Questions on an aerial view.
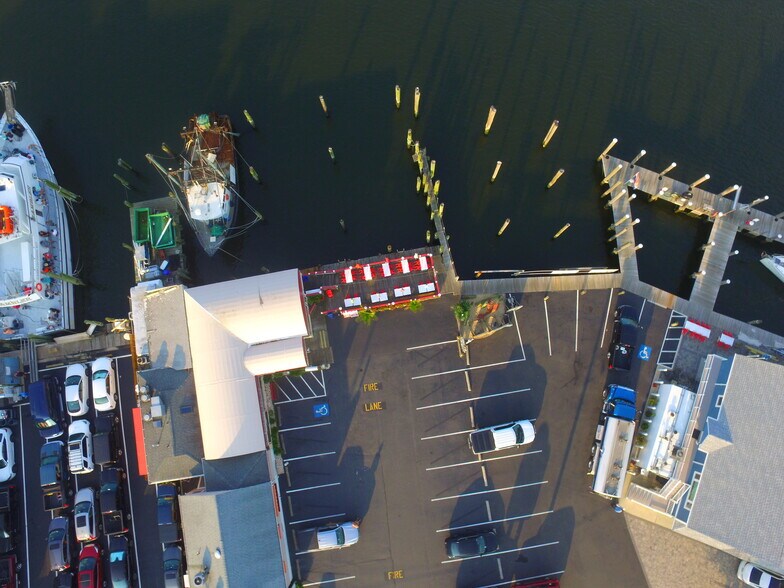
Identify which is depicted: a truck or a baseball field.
truck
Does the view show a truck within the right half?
Yes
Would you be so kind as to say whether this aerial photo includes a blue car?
Yes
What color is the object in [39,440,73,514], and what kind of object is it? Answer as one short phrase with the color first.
blue truck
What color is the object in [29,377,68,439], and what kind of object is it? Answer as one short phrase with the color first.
blue van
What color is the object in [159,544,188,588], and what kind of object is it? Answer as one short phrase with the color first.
blue car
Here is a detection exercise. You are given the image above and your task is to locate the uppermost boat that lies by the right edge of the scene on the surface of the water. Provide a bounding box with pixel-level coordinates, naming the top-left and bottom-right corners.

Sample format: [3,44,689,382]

[756,257,784,289]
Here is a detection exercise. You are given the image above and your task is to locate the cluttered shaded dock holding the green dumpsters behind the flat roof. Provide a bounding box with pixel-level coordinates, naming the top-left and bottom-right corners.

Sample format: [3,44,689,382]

[122,197,188,289]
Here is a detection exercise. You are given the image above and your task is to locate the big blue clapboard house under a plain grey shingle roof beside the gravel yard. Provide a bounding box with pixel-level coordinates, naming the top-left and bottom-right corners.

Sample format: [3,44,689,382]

[625,355,784,562]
